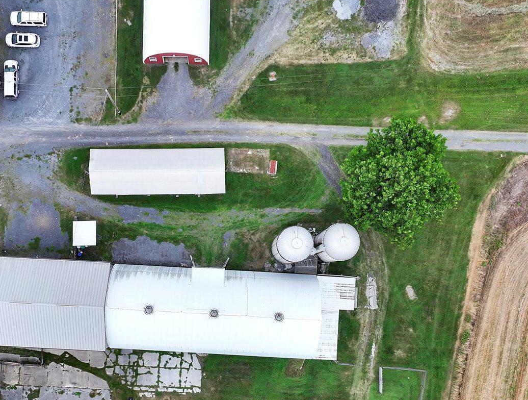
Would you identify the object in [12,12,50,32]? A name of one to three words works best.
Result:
car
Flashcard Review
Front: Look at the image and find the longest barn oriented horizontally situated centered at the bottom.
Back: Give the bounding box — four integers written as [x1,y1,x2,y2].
[103,264,323,358]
